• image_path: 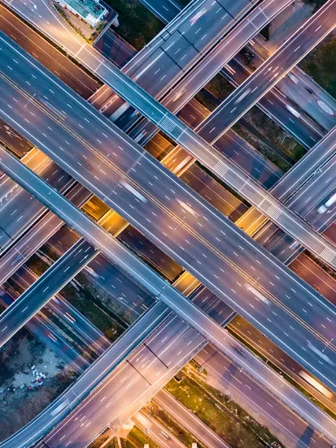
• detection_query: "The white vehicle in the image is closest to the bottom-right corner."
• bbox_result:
[307,375,328,394]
